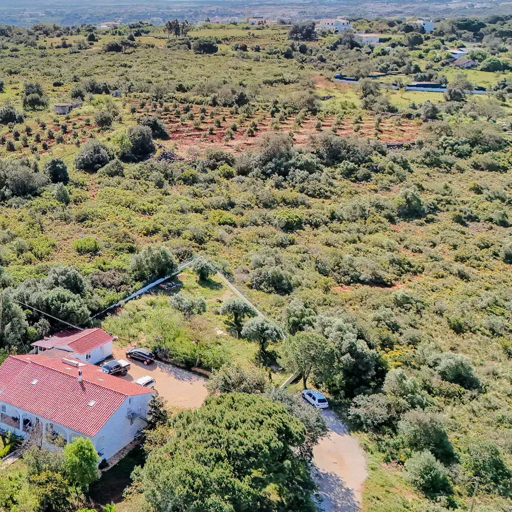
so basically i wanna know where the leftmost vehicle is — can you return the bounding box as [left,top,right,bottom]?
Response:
[96,359,137,376]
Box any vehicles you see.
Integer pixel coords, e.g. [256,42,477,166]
[299,392,334,410]
[96,359,137,376]
[129,373,161,391]
[123,348,158,365]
